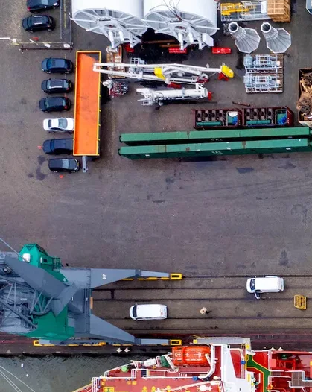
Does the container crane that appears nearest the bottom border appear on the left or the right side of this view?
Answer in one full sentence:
It is on the left.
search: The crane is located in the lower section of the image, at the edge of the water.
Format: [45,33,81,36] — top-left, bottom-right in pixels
[0,237,179,345]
